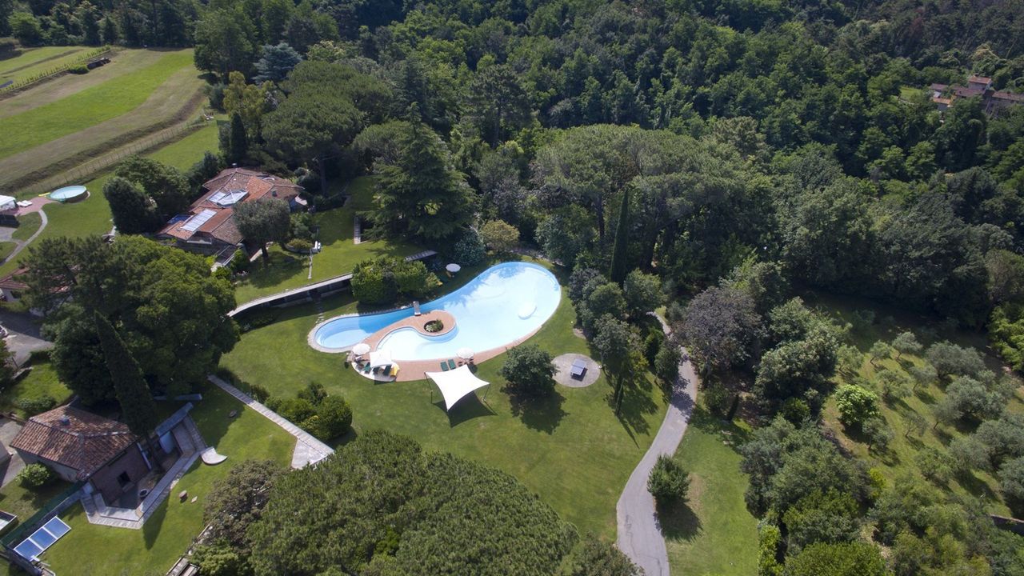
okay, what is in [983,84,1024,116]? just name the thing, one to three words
house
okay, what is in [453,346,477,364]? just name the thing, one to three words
umbrella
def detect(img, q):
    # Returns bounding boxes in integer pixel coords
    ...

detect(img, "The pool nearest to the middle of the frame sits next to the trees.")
[307,261,563,362]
